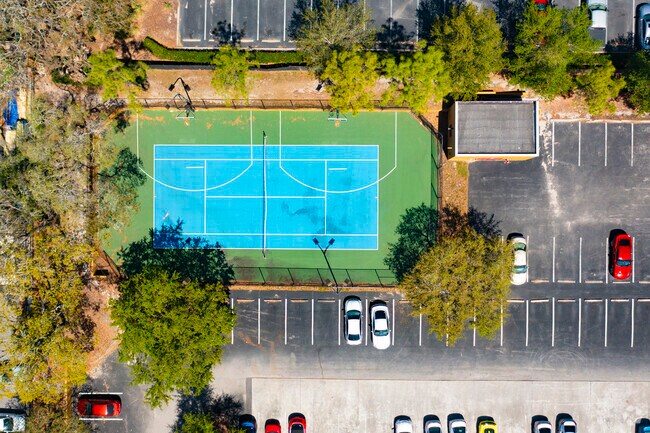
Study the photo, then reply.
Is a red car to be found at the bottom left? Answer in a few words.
Yes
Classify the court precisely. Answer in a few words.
tennis court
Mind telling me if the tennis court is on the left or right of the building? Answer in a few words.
to its left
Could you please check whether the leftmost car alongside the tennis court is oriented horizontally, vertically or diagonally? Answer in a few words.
vertically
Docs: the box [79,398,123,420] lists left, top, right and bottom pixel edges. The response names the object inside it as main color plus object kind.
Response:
red car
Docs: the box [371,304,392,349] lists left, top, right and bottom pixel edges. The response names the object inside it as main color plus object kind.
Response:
white car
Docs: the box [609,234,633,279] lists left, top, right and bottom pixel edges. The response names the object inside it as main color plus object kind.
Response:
red car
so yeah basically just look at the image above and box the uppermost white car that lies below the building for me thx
[508,238,530,285]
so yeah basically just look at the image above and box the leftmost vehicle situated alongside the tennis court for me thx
[342,298,363,345]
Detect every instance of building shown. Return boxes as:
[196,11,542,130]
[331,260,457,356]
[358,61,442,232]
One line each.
[448,100,540,161]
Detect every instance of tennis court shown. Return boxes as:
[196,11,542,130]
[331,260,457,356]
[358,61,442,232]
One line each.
[93,107,439,286]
